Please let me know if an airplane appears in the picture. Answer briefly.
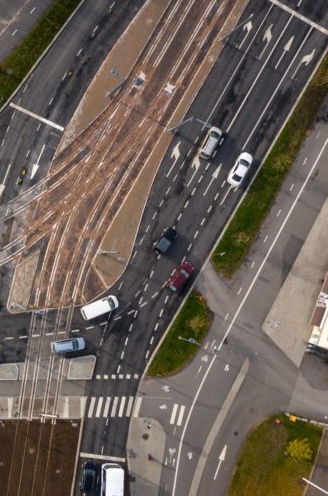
No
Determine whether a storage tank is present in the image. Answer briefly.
No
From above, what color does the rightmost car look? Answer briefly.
white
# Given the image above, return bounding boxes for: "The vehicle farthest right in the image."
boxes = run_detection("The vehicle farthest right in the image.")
[226,151,254,187]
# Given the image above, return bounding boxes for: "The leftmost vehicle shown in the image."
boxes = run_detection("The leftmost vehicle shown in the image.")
[51,337,85,353]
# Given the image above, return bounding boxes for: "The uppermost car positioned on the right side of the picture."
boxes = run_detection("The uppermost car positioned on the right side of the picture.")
[198,127,222,162]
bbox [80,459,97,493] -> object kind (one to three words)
car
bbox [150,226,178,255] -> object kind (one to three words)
car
